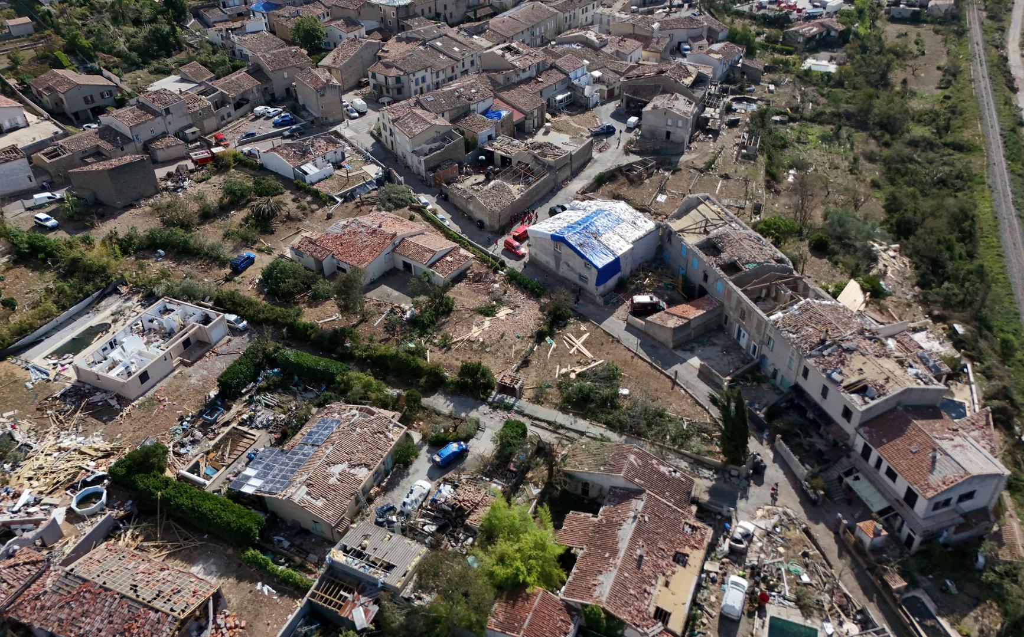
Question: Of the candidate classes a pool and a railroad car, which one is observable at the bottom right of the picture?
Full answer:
Looking at the bottom right of the picture, you will find a pool.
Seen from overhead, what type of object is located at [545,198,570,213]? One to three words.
car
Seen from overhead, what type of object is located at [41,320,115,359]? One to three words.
swimming pool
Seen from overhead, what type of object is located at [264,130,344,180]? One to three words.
house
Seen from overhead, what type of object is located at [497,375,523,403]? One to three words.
shed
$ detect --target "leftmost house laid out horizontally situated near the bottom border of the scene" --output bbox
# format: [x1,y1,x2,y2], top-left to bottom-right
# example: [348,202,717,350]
[6,540,214,637]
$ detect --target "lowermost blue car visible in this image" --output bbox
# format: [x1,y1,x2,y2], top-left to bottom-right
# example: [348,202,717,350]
[431,439,469,466]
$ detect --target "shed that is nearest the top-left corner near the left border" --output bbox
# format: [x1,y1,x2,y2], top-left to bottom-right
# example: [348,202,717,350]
[4,11,34,34]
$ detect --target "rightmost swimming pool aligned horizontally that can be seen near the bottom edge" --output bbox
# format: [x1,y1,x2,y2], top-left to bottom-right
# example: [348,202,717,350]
[764,612,822,637]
